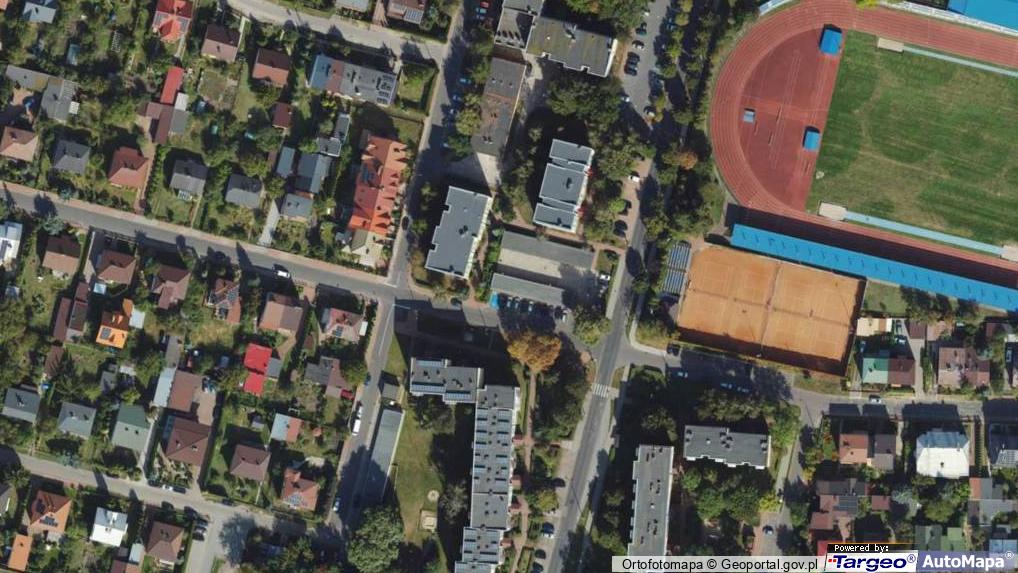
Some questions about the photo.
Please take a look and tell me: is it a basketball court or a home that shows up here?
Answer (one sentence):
This aerial view contains a home.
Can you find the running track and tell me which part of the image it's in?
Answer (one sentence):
The running track is in the top right part of the image.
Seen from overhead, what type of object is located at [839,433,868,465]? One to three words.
house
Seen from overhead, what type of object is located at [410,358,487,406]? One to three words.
building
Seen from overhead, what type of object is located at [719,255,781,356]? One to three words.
tennis court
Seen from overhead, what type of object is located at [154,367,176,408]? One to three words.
shed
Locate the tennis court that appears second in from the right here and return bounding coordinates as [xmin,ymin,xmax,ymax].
[761,264,823,366]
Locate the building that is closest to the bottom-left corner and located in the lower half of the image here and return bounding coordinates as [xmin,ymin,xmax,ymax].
[8,534,32,571]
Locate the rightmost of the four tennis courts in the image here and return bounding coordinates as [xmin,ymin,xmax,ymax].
[802,272,866,376]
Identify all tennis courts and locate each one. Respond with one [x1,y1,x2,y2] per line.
[802,272,866,376]
[761,264,823,366]
[719,255,781,356]
[677,246,741,347]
